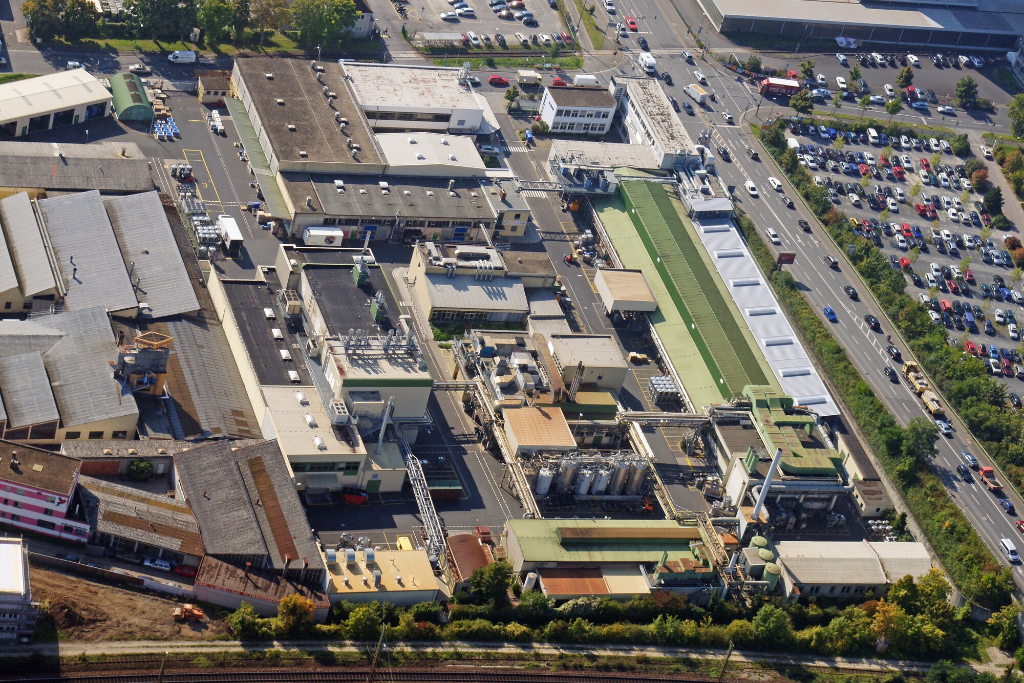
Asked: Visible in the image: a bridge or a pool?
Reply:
bridge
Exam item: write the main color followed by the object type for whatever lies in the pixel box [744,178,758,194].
white vehicle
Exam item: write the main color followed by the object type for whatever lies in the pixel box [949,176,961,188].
gray vehicle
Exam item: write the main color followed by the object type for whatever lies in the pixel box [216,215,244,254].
white truck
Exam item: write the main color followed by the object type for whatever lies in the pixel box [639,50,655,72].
white camper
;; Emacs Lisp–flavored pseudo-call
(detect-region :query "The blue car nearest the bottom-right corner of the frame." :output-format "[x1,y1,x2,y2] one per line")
[999,500,1015,514]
